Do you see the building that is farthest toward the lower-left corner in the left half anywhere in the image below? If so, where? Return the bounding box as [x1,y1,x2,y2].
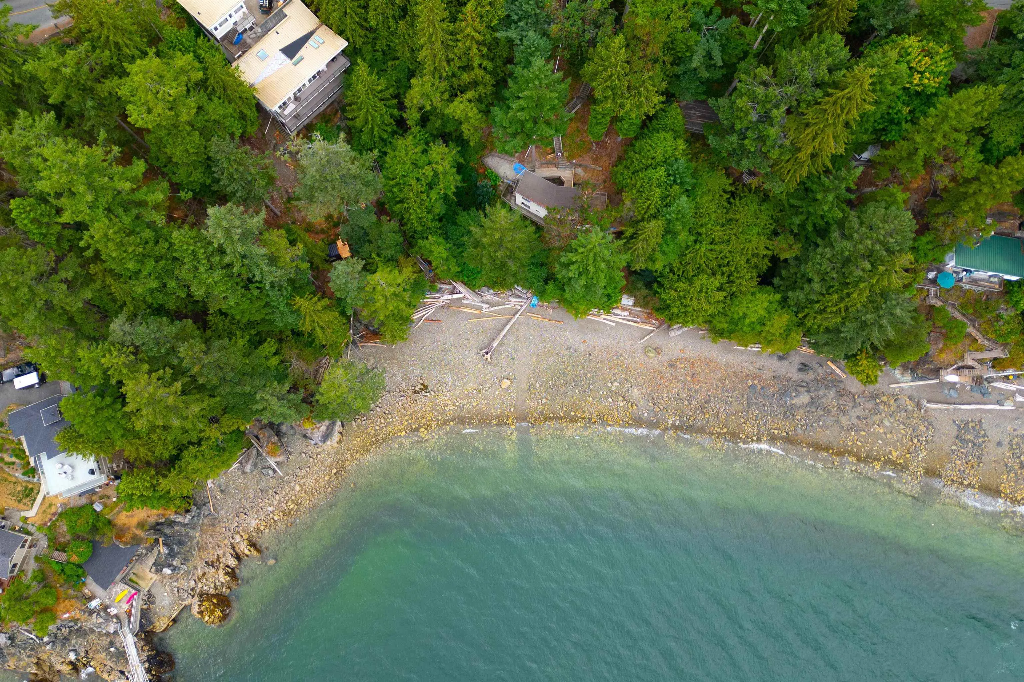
[0,526,42,580]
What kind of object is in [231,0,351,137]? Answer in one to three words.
house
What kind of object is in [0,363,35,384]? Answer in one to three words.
truck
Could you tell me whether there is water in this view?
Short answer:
Yes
